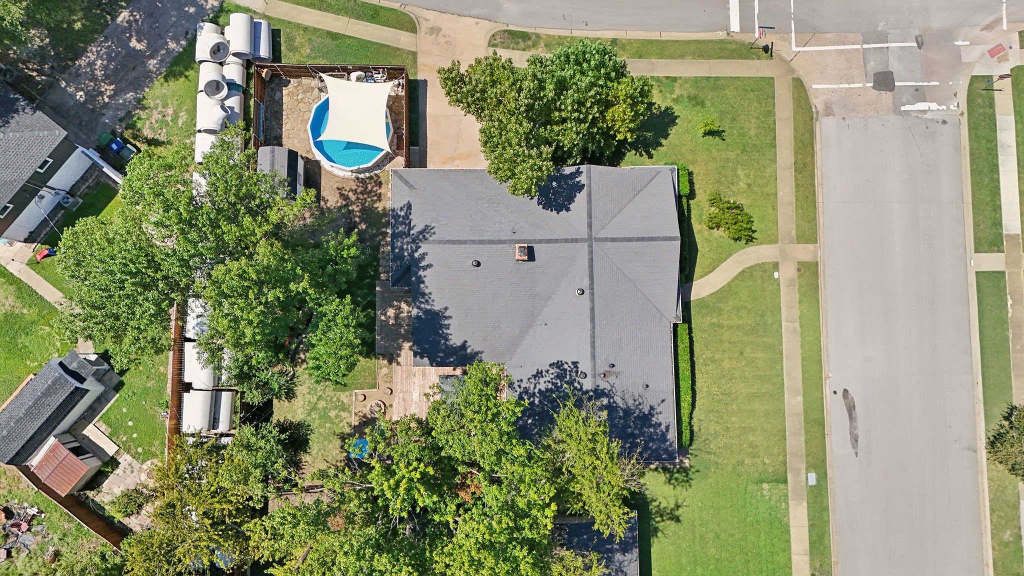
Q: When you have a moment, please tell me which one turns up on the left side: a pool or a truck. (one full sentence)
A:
The feature located on the left side is a pool.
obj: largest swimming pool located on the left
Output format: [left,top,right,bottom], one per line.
[307,95,396,174]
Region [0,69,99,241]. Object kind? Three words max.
house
